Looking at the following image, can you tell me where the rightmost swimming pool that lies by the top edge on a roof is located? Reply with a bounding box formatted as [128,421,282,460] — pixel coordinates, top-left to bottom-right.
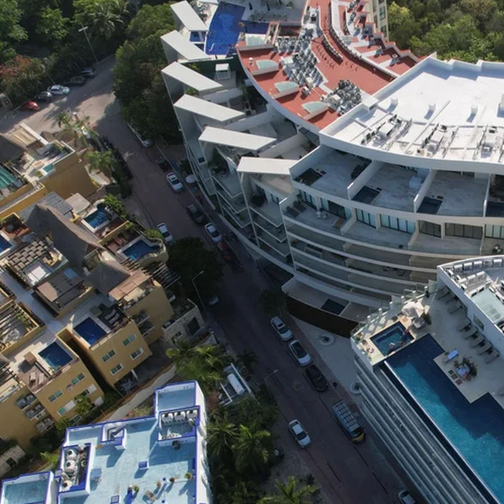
[206,1,269,52]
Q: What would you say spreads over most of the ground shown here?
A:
buildings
